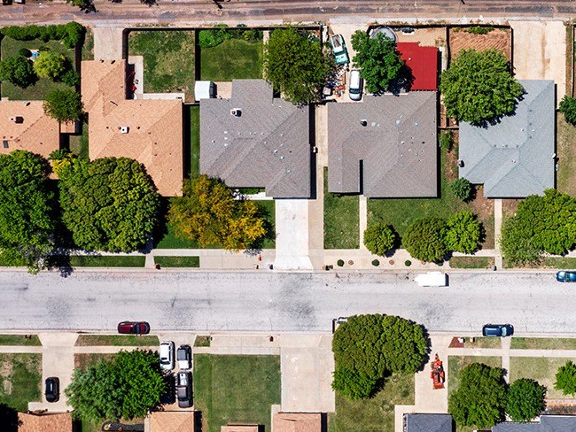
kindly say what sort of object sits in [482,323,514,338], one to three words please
car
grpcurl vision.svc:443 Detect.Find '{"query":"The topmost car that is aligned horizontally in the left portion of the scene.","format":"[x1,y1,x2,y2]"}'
[119,321,152,336]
